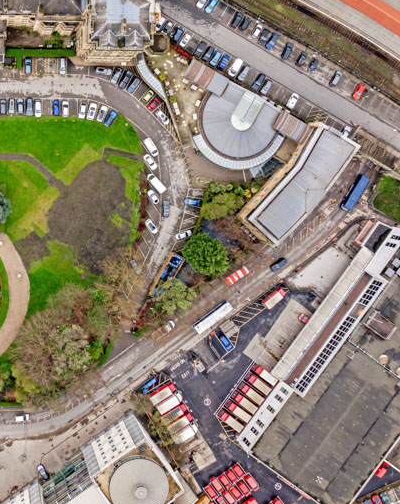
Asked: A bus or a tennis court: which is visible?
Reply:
bus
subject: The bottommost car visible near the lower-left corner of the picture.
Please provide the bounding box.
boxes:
[37,462,50,479]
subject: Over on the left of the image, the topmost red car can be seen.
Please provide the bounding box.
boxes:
[146,97,161,111]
